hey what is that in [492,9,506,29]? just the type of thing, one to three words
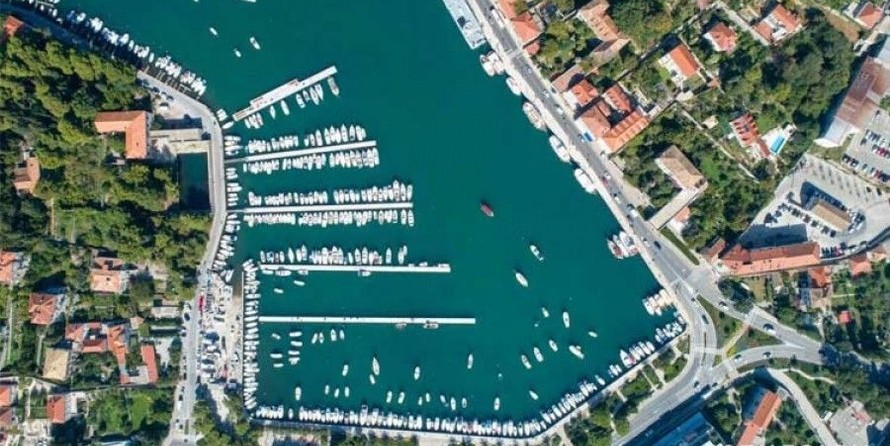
vehicle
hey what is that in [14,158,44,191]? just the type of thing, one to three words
house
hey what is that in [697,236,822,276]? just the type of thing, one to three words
building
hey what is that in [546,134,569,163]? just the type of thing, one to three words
boat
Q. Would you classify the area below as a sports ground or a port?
port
